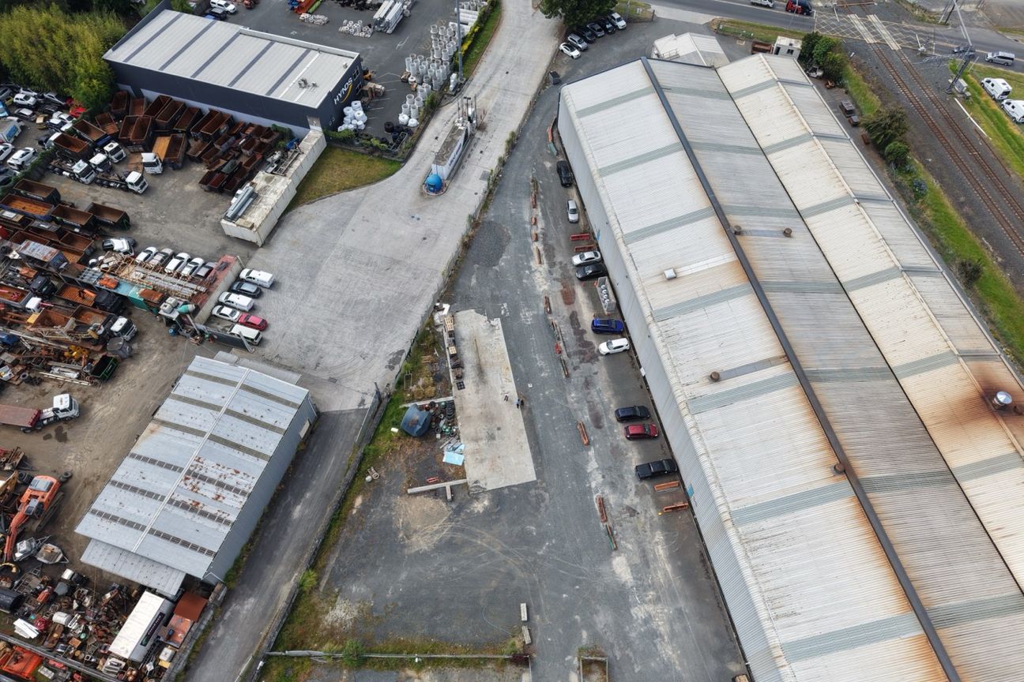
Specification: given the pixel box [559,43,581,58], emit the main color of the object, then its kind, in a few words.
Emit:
white car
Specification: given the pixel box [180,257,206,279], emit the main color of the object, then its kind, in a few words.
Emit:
gray car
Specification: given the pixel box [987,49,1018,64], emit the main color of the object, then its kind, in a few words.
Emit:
gray vehicle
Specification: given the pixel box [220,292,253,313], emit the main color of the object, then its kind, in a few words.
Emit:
white vehicle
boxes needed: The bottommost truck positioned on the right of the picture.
[635,458,677,479]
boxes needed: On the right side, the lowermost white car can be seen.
[599,337,630,355]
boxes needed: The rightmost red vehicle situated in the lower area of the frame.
[625,423,658,440]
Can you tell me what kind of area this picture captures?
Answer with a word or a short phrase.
industrial area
